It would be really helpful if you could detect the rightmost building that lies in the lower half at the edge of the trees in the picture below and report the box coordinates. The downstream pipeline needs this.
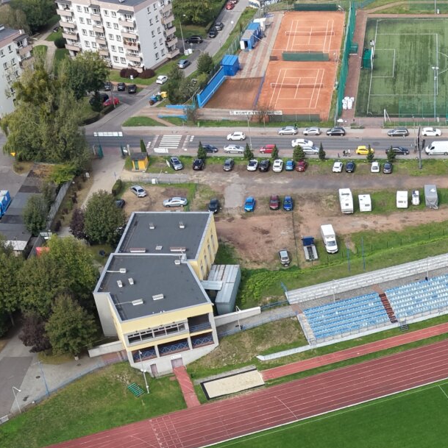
[94,212,261,360]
